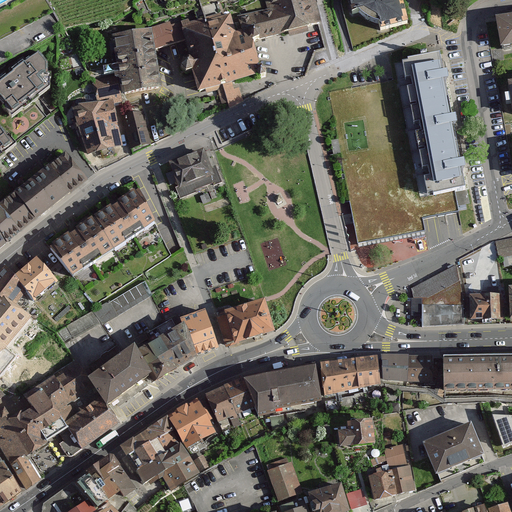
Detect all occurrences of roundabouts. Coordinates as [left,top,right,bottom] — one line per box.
[300,278,375,352]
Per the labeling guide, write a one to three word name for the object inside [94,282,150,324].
building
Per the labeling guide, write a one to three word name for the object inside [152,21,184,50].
shed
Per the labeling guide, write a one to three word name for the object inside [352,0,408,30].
house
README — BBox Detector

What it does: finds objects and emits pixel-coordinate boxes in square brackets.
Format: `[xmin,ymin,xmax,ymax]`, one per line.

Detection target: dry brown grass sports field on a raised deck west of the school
[330,67,458,250]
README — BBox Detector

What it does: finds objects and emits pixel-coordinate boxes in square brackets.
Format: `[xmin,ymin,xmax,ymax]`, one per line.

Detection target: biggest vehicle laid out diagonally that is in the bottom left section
[95,430,119,448]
